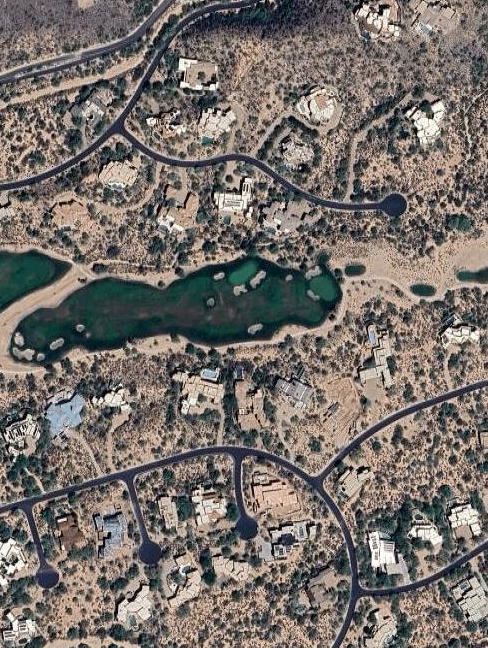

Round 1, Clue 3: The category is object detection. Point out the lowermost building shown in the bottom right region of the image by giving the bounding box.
[364,605,397,648]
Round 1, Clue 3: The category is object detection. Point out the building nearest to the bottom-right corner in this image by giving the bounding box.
[450,574,488,624]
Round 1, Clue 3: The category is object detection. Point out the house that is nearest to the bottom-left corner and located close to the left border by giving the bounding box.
[1,606,37,644]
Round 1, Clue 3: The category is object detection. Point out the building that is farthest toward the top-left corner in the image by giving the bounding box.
[74,90,114,123]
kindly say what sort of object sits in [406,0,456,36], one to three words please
house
